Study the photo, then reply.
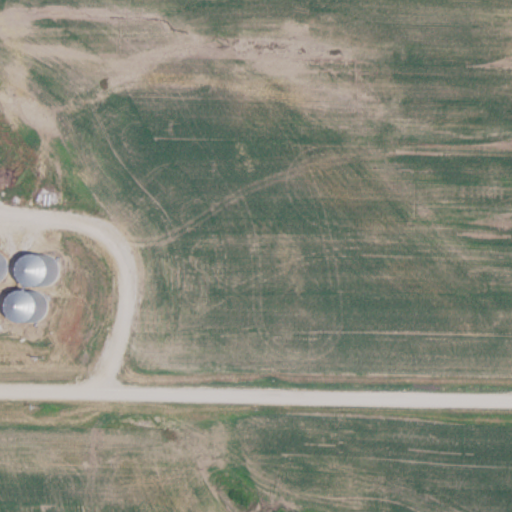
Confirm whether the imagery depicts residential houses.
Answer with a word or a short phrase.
No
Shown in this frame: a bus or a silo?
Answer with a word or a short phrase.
silo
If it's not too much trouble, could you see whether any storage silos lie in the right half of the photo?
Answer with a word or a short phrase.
No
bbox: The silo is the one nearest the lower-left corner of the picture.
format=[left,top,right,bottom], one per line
[2,288,48,326]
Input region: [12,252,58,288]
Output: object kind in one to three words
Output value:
silo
